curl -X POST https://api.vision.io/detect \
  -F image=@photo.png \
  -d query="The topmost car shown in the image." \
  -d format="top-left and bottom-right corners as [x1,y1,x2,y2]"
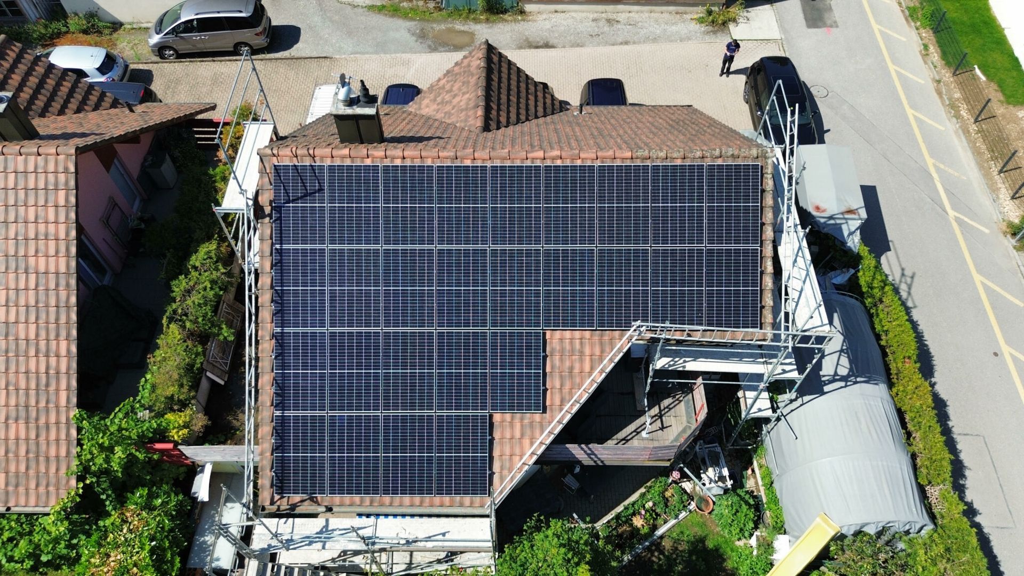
[142,0,274,60]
